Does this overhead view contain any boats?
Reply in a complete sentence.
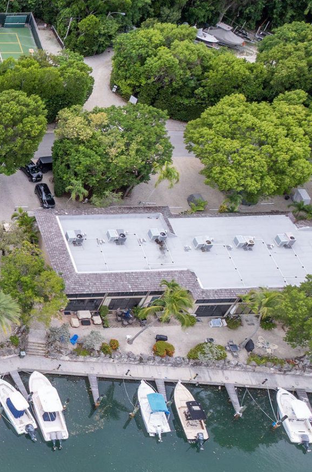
Yes, looking at the shot, I can spot a boat.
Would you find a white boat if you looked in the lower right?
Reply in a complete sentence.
Yes, in the lower right there is a white boat.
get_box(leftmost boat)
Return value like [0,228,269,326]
[0,378,36,443]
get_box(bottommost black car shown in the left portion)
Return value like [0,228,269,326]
[33,180,56,208]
